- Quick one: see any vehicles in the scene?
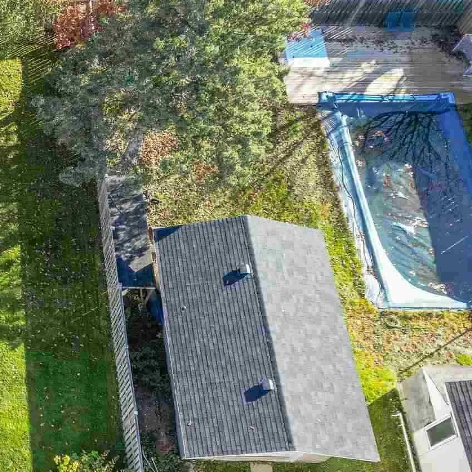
No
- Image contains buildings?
Yes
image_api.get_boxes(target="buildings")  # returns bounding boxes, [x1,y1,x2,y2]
[414,376,472,472]
[142,214,382,468]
